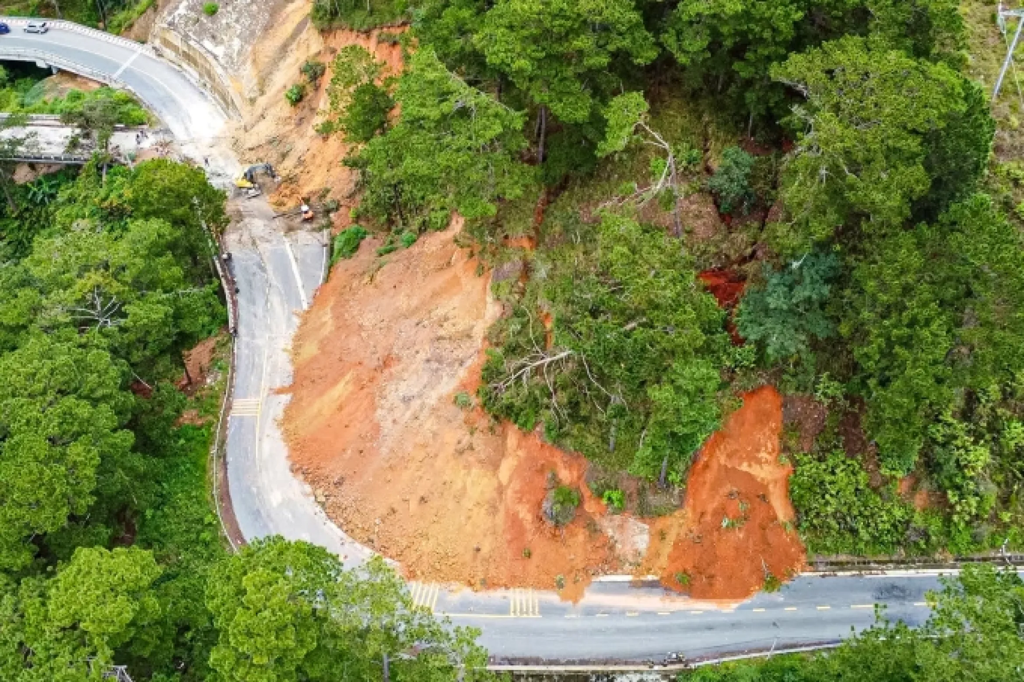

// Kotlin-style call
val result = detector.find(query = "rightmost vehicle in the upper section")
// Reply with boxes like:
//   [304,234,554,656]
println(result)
[297,193,314,222]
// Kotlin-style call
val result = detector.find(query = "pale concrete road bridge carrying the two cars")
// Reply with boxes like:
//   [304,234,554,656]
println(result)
[0,21,149,94]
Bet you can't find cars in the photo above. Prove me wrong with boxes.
[0,23,11,36]
[17,19,50,36]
